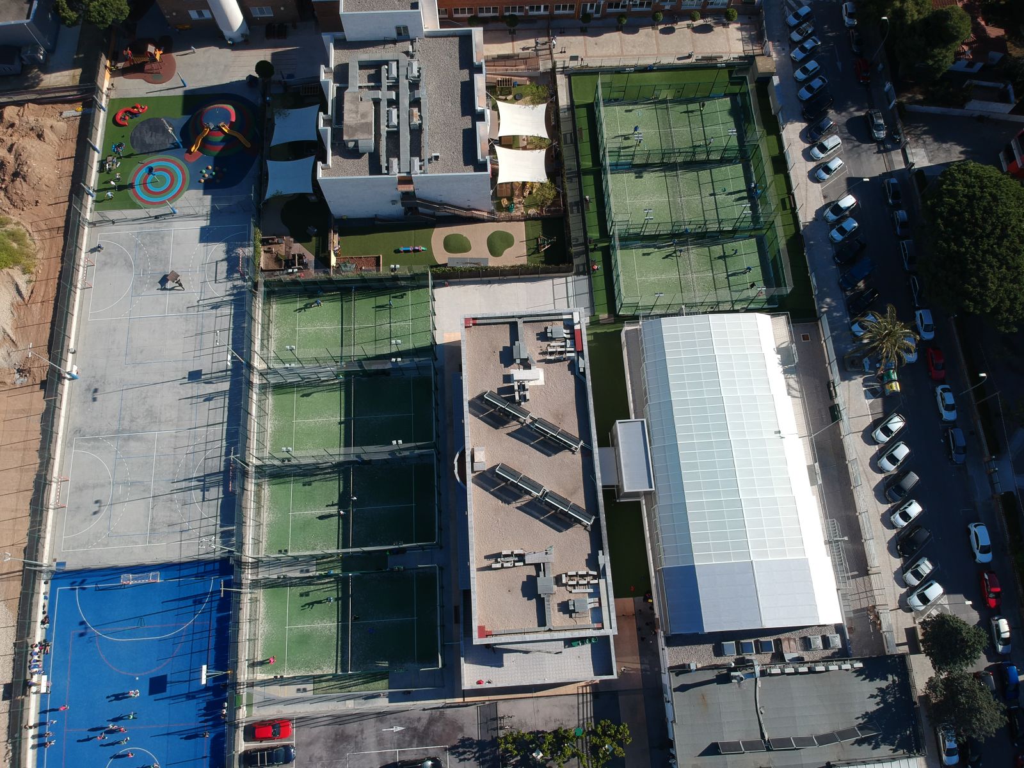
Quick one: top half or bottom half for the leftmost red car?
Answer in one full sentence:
Seen from above, the leftmost red car lies in the bottom half of the view.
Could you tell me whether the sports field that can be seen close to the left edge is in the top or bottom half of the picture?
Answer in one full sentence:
Seen from above, the sports field that can be seen close to the left edge lies in the bottom half of the view.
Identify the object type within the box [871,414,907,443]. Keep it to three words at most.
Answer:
car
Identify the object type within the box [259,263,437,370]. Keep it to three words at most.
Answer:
sports court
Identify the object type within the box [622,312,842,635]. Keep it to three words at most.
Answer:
building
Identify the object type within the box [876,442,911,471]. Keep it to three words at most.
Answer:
car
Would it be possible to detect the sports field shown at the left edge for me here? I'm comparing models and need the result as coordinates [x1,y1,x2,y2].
[30,556,242,768]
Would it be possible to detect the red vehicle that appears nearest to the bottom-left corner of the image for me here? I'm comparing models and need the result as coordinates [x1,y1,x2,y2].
[249,718,295,741]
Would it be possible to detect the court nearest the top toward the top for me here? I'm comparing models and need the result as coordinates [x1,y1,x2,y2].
[593,66,764,165]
